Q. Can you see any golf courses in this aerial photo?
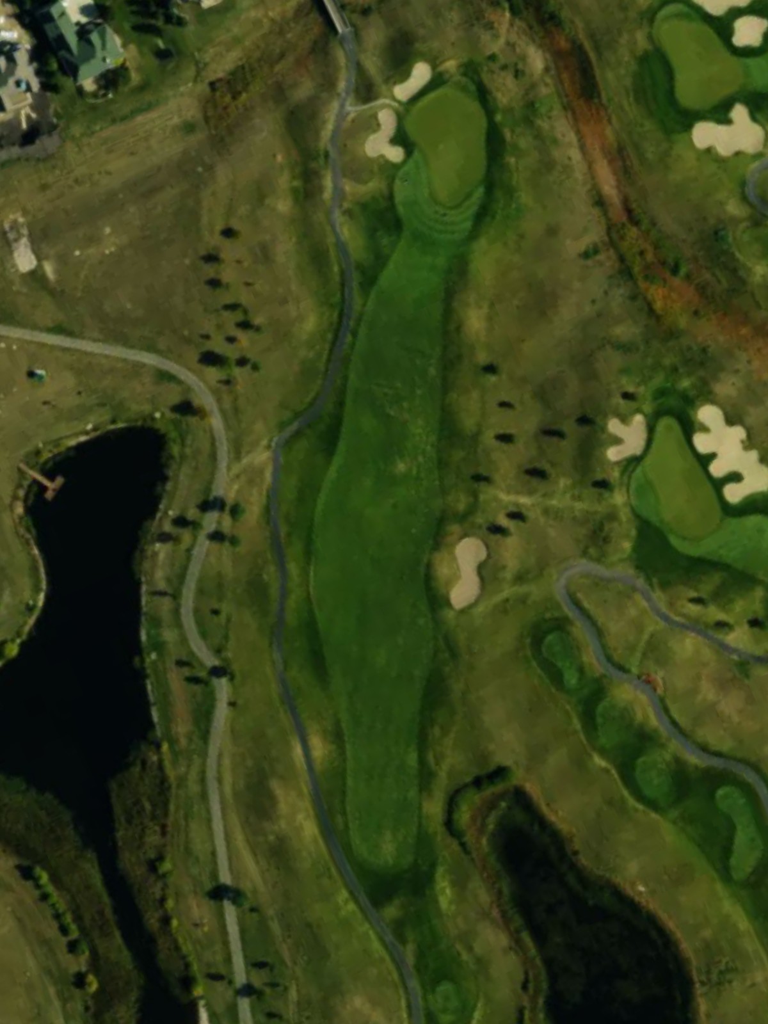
Yes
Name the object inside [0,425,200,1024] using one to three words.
pond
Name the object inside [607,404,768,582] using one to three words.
golf course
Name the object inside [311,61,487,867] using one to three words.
golf course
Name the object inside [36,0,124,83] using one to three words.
house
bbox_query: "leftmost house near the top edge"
[0,43,48,121]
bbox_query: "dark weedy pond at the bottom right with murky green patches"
[493,784,701,1024]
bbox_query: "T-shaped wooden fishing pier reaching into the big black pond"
[18,462,66,502]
